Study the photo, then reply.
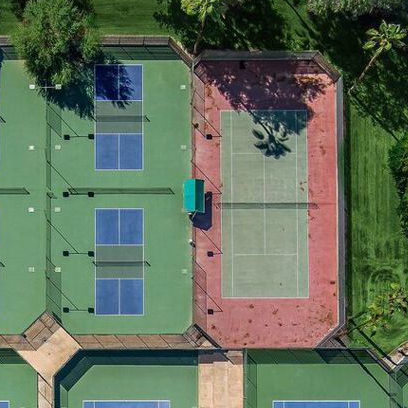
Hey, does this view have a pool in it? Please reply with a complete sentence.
No, I find no pool anywhere in the image.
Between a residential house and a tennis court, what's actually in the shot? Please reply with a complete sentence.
Of the two, only a tennis court appears.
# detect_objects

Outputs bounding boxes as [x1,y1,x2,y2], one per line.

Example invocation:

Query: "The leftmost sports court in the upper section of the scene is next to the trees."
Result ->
[92,64,146,170]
